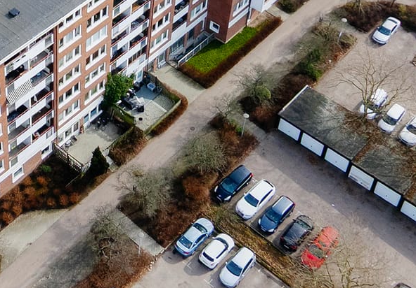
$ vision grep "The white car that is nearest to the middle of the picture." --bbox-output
[238,178,274,218]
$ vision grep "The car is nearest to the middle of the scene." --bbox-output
[215,164,252,201]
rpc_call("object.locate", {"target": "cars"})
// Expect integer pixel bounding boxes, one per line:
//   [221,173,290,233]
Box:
[279,215,314,250]
[378,103,407,133]
[238,178,274,218]
[215,164,252,201]
[175,217,213,256]
[199,232,235,269]
[303,228,338,264]
[220,246,254,287]
[259,193,295,232]
[373,14,401,42]
[401,115,416,143]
